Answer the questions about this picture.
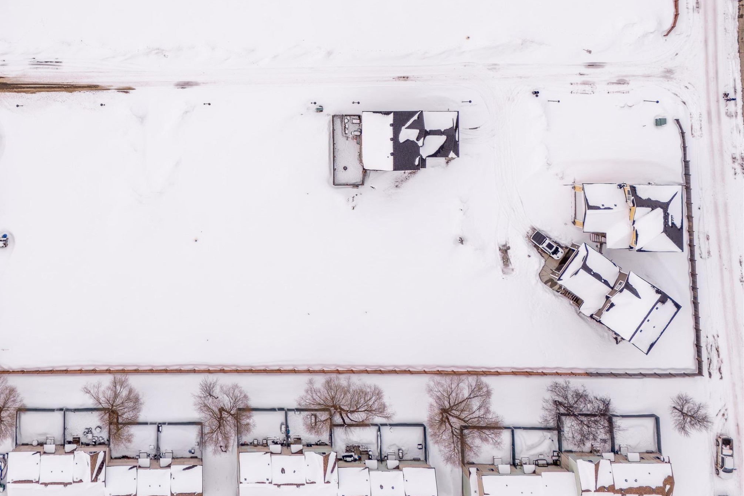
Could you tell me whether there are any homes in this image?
Yes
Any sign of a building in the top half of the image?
Yes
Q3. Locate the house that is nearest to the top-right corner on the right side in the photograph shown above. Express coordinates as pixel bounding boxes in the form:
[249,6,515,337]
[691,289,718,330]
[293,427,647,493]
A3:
[575,183,683,253]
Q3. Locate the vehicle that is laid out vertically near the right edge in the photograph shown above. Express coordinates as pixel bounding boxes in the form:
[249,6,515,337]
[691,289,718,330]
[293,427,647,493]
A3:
[716,436,734,479]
